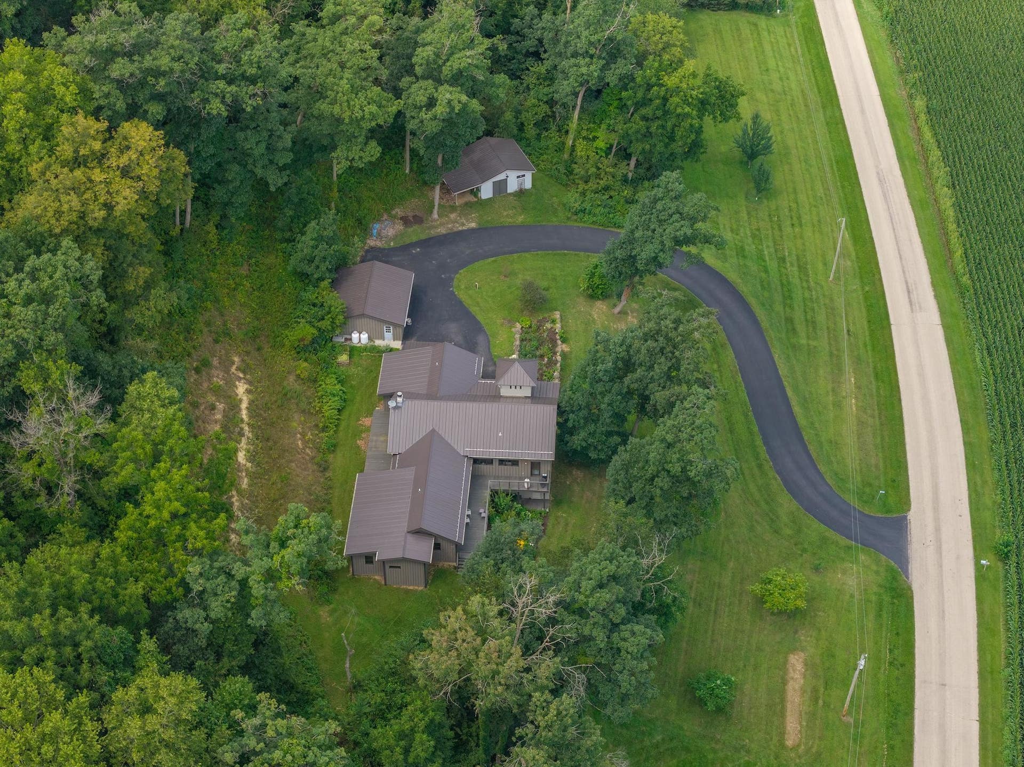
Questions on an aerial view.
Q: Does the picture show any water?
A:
No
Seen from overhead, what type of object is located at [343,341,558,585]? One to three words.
house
